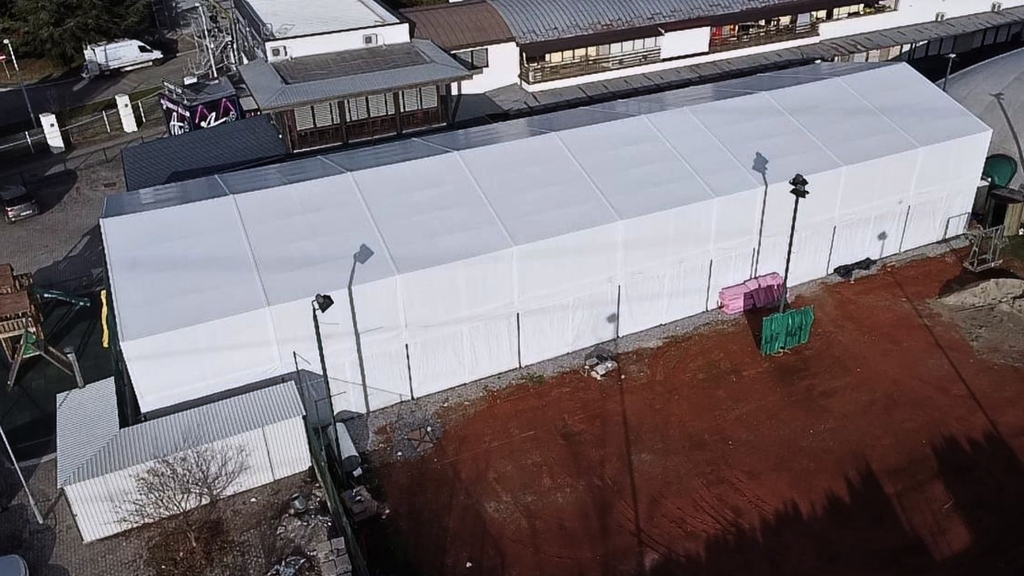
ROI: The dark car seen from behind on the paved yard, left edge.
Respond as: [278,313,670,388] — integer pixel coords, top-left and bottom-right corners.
[0,176,38,216]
